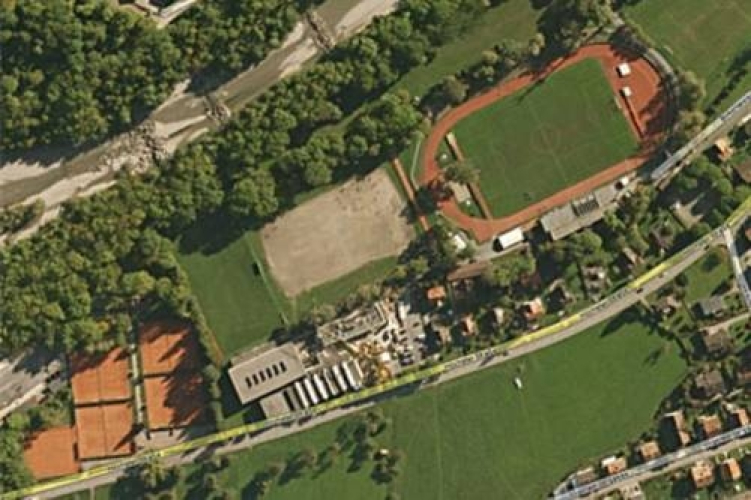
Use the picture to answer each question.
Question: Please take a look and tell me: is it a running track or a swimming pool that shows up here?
running track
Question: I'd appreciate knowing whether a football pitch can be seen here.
Yes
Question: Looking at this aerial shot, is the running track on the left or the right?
right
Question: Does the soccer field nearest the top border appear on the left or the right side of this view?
right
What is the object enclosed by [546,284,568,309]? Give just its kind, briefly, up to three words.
house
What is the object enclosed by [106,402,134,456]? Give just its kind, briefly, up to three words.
tennis court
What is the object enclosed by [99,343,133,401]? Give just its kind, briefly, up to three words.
tennis court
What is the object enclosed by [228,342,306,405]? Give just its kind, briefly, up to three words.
building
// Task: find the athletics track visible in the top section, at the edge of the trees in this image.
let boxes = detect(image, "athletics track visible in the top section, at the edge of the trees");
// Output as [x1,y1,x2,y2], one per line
[417,44,664,243]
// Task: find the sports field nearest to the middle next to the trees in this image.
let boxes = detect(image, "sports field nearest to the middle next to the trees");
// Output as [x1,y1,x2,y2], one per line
[260,166,415,298]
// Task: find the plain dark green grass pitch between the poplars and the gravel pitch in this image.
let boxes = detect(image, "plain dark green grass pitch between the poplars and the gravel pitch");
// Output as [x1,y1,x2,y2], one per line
[171,224,291,362]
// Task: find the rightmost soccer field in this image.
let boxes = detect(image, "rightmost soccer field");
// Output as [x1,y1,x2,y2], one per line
[622,0,751,122]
